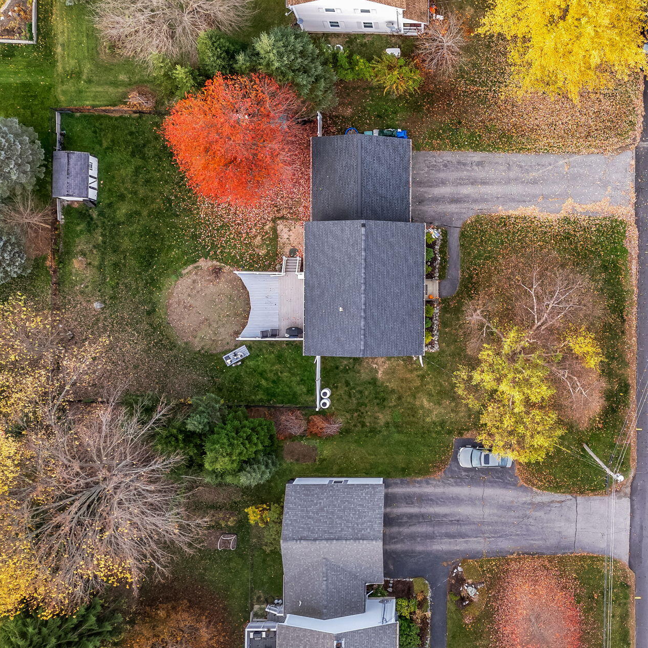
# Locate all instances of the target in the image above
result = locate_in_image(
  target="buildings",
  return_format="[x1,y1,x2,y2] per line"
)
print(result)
[55,150,102,211]
[275,478,400,648]
[278,0,432,36]
[301,134,439,367]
